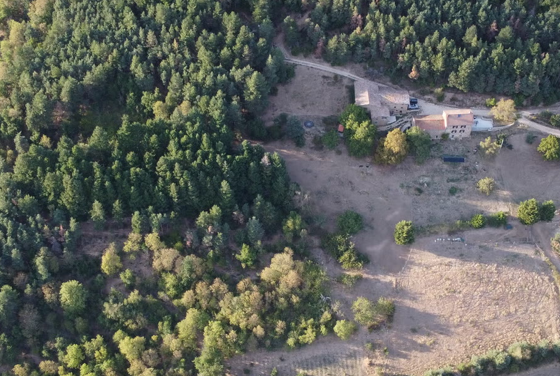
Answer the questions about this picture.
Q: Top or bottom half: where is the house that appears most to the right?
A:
top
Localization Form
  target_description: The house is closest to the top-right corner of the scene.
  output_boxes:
[409,109,474,143]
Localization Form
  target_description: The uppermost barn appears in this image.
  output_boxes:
[351,79,410,122]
